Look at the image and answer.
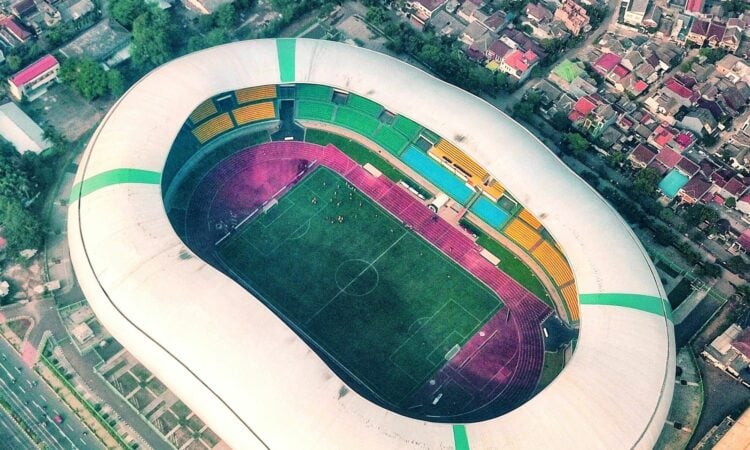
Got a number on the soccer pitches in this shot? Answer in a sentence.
The picture shows 1 soccer pitch.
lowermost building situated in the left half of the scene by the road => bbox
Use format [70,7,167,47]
[64,320,93,347]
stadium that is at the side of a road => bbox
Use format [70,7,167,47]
[67,37,677,450]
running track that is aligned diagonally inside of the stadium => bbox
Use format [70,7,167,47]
[179,136,554,423]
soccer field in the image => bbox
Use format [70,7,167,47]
[213,166,502,407]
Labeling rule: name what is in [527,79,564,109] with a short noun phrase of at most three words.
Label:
house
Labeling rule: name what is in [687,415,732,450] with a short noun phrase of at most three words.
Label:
building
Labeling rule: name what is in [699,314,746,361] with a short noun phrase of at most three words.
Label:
house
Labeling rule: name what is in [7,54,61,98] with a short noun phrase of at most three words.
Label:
building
